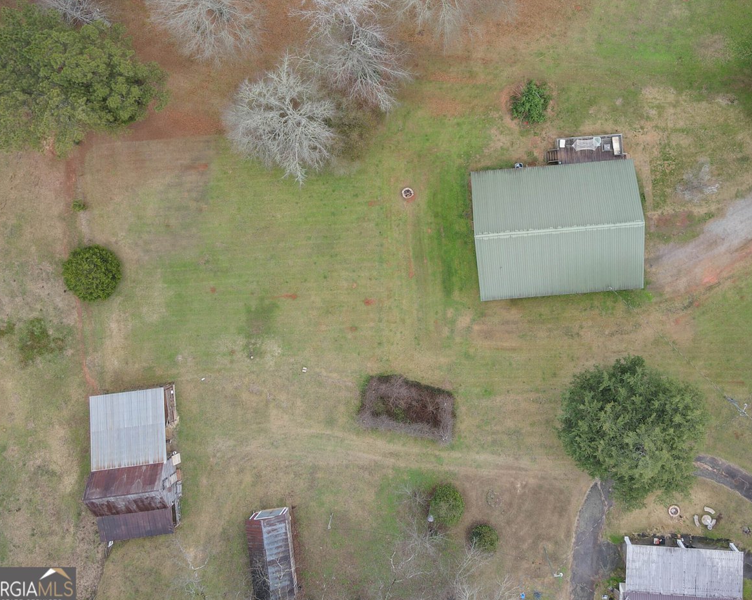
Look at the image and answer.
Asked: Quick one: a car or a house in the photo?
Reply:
house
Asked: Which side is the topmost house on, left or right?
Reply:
right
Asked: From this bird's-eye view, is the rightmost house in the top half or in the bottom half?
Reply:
bottom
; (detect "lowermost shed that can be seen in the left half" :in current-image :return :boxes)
[245,506,302,600]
